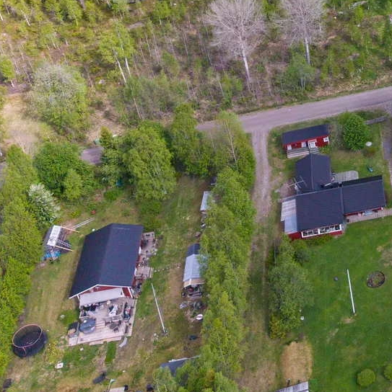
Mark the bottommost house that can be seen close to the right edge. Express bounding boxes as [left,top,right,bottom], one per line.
[278,154,386,244]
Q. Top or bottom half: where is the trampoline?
bottom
